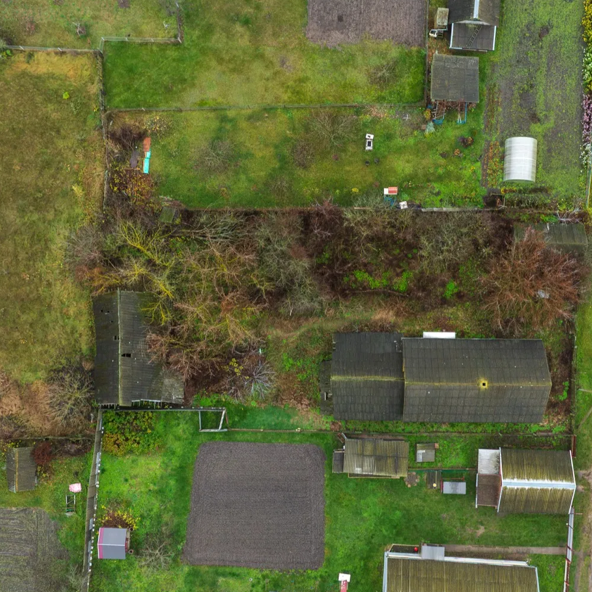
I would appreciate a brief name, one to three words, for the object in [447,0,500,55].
house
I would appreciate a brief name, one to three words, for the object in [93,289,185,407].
barn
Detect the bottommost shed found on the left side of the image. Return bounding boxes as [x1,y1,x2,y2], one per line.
[98,525,131,559]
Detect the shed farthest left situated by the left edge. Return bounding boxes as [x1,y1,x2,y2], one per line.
[7,446,42,493]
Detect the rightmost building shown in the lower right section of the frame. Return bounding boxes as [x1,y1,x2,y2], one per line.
[476,447,578,515]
